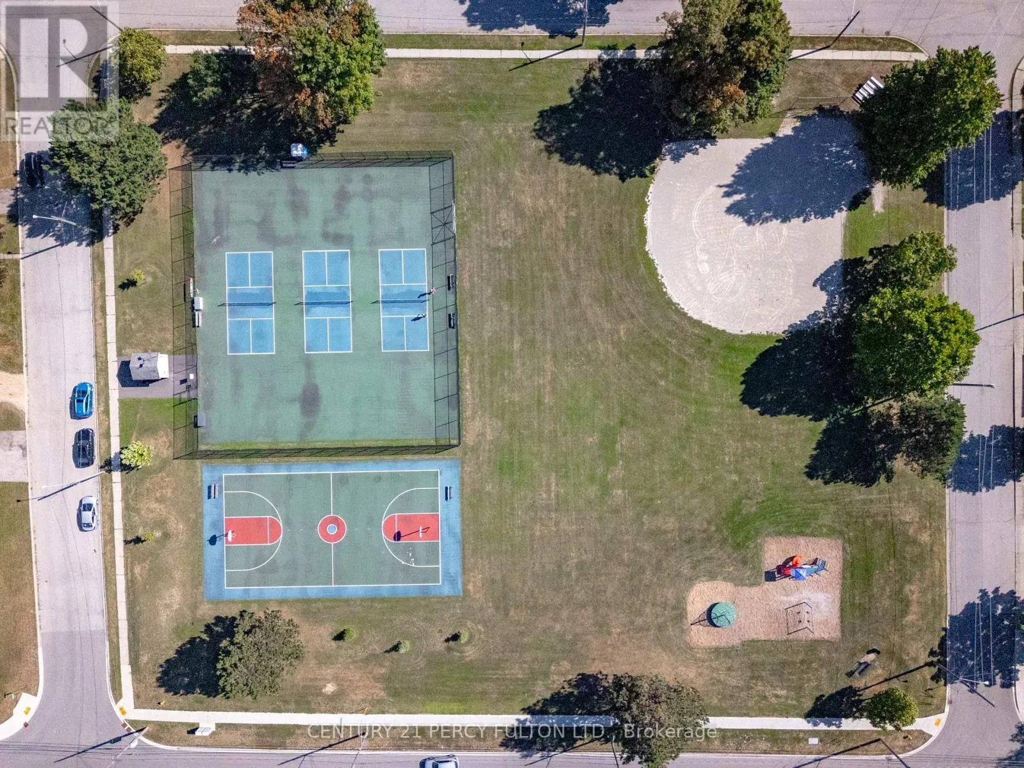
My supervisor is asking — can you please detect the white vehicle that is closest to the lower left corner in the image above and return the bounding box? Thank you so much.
[79,496,99,532]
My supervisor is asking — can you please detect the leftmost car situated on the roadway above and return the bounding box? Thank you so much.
[20,149,43,187]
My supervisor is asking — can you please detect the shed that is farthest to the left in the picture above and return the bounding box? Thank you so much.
[127,352,168,380]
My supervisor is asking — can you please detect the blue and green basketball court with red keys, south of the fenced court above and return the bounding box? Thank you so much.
[202,459,462,600]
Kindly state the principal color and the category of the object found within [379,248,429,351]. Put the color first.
blue sports court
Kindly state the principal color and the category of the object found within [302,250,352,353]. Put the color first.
blue sports court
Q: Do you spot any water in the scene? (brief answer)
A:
No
